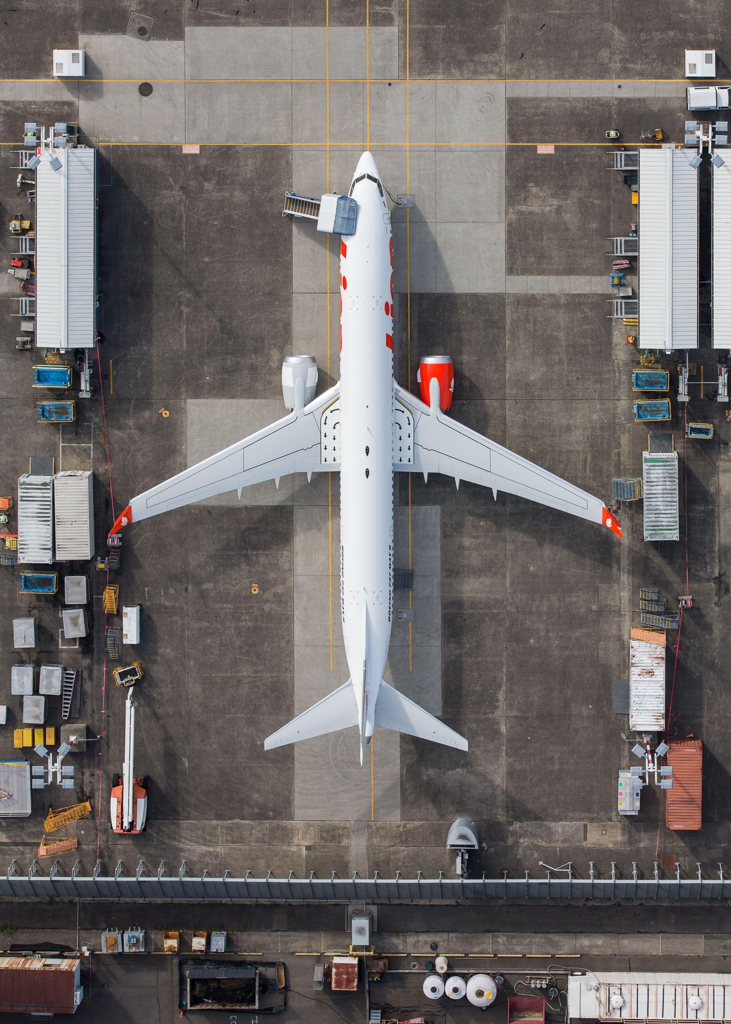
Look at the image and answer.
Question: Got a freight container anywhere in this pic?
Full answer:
Yes, you can see a freight container in this photo.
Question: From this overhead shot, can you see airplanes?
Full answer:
Yes, there's an airplane down there.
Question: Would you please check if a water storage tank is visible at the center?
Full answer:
No, I see no water storage tank at the center.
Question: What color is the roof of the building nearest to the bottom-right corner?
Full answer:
The roof over the building nearest to the bottom-right corner appears white.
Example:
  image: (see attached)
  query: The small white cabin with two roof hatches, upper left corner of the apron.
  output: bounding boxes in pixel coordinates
[53,49,85,77]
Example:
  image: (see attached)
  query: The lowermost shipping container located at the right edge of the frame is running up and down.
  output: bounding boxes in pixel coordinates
[667,740,702,830]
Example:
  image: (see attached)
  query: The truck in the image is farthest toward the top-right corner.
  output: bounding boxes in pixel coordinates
[685,87,731,110]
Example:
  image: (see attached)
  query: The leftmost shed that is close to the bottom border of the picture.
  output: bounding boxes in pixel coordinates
[0,950,81,1020]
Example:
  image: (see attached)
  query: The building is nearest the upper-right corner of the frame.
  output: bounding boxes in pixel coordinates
[685,49,715,78]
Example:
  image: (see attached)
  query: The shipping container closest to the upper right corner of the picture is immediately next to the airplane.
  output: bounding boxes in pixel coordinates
[642,452,678,540]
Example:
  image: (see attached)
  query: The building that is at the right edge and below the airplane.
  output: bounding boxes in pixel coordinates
[568,970,731,1023]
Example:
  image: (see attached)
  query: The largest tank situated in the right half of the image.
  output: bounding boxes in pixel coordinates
[467,973,497,1006]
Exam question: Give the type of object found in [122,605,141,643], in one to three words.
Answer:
trailer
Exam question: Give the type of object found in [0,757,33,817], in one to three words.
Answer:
building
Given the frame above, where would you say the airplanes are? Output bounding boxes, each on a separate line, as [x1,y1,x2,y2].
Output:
[107,151,623,764]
